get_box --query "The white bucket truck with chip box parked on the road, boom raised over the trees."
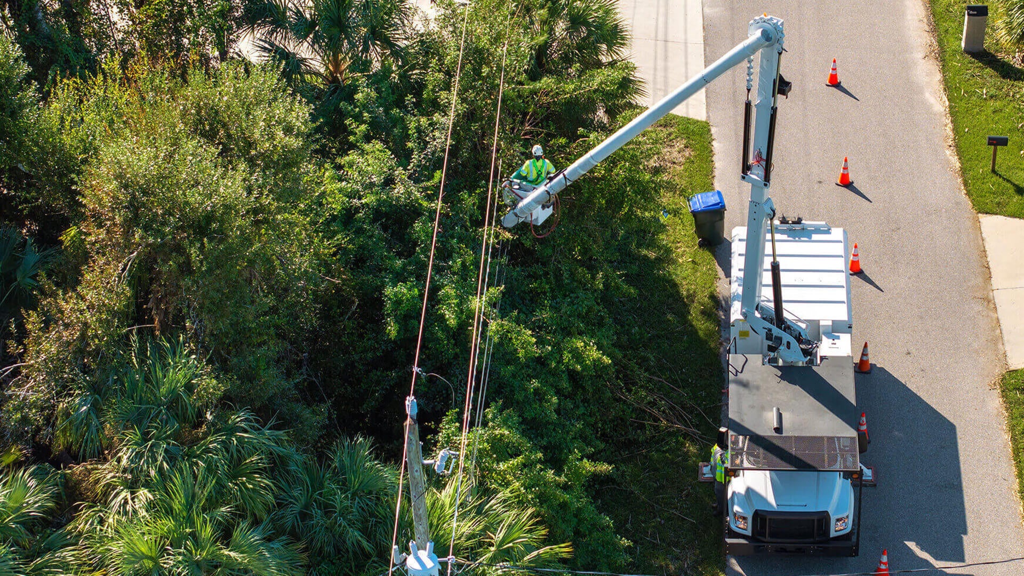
[500,15,880,566]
